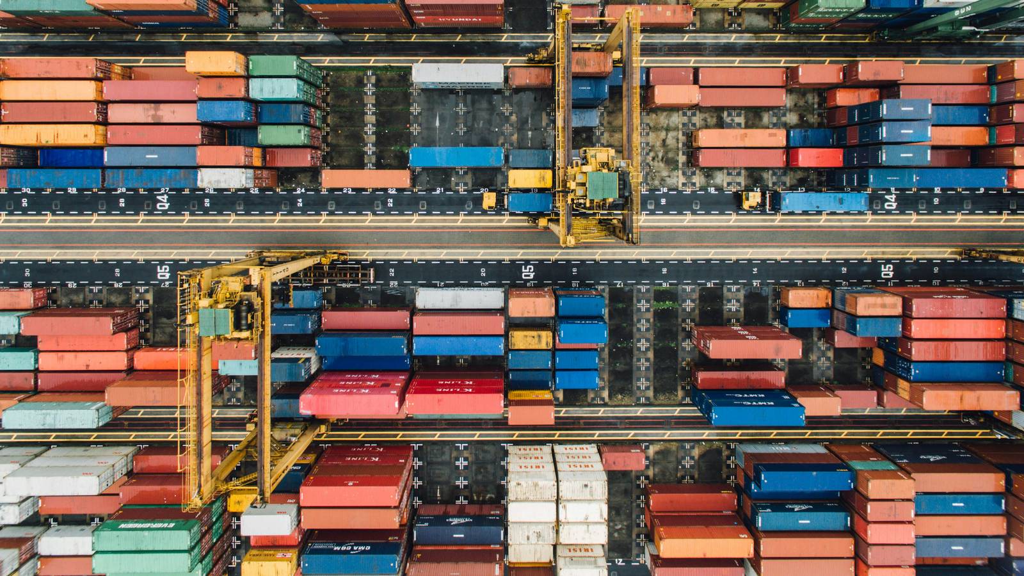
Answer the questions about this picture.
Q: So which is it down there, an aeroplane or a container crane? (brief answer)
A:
container crane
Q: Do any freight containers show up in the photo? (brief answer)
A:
Yes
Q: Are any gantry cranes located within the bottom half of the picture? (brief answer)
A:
Yes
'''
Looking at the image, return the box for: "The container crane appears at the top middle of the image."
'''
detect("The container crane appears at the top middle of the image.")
[524,8,644,256]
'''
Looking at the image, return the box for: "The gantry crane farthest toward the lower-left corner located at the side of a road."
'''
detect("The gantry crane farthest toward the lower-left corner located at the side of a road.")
[165,244,348,513]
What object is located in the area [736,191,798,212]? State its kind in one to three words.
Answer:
truck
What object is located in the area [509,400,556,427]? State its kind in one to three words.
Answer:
shipping container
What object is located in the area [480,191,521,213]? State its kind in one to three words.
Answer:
truck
